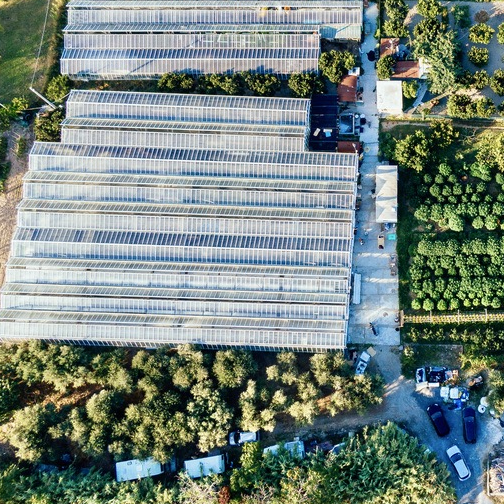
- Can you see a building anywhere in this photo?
Yes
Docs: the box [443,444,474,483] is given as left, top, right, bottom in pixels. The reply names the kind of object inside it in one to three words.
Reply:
car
